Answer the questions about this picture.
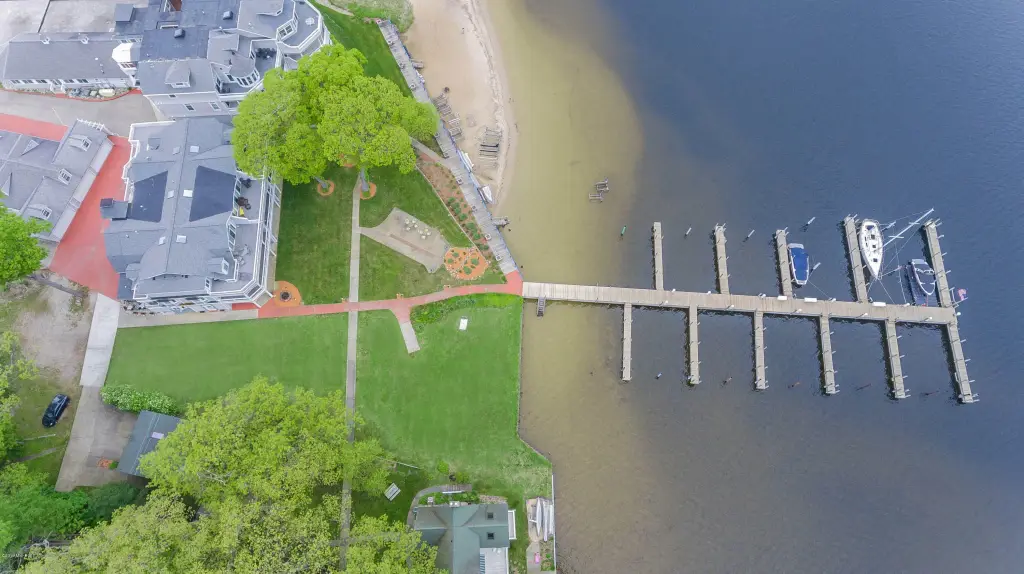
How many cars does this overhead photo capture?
1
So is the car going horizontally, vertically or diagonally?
diagonally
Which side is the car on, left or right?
left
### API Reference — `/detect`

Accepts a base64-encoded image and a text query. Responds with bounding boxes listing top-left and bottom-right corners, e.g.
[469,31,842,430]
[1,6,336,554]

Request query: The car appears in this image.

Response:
[40,392,71,429]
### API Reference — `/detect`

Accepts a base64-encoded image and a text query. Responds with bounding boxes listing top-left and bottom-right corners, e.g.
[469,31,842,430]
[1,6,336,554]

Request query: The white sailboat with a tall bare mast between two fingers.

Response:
[860,206,932,279]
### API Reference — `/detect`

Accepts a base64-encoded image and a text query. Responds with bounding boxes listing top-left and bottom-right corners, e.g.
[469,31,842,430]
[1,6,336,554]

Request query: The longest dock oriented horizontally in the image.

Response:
[524,215,982,402]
